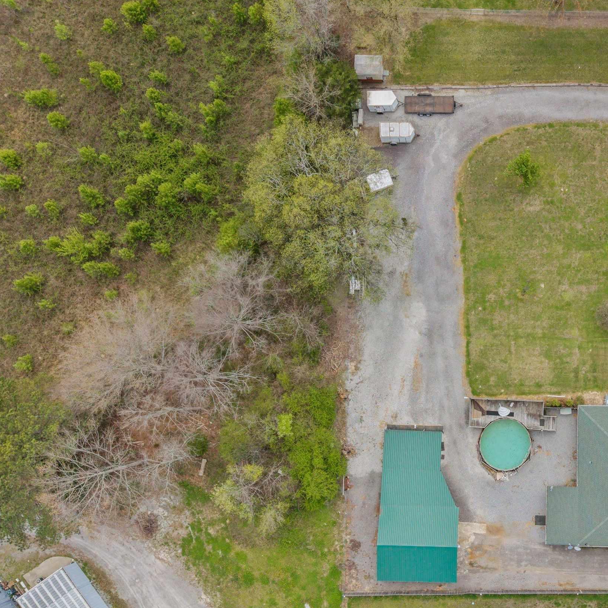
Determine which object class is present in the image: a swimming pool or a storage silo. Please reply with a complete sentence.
Visible in the photo is a swimming pool.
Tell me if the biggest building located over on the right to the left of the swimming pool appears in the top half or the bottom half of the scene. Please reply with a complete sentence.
The bottom half of the photo is where the biggest building located over on the right to the left of the swimming pool is.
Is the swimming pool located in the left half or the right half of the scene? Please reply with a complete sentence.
You can find the swimming pool on the right side of the picture.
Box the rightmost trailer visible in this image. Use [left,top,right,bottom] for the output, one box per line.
[404,93,465,118]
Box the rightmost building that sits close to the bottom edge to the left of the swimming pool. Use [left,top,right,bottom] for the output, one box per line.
[376,424,459,582]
